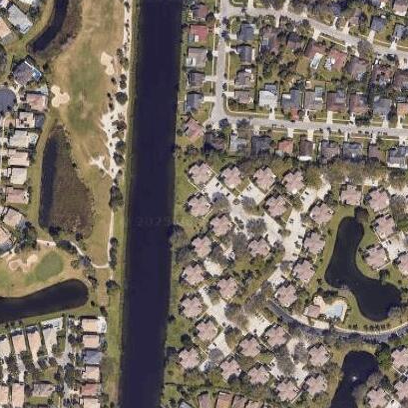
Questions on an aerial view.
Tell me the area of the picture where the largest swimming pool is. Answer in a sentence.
You can find the largest swimming pool in the bottom right area of the picture.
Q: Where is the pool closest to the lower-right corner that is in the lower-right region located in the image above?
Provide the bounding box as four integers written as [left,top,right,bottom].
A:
[313,295,347,320]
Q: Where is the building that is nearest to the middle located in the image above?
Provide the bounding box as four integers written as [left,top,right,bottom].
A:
[184,191,212,218]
